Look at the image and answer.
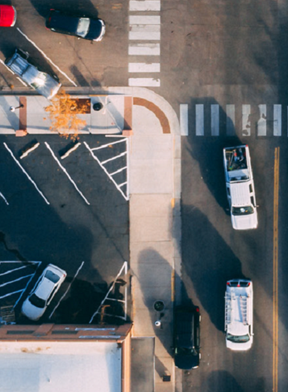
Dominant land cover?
paved ground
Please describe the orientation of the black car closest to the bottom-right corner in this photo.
from top to bottom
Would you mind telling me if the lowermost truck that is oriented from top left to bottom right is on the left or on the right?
left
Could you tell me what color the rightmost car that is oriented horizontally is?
black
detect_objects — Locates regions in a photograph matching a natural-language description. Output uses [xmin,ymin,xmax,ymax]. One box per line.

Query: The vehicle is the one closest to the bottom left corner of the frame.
[22,263,67,323]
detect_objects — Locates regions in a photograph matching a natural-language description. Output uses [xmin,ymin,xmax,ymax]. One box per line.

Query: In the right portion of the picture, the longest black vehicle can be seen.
[173,304,201,370]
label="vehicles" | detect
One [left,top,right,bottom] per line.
[44,8,105,43]
[222,144,259,231]
[0,2,18,27]
[223,278,254,352]
[22,263,67,323]
[1,46,63,101]
[173,304,201,370]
